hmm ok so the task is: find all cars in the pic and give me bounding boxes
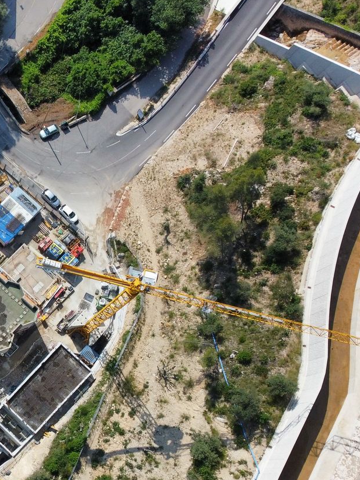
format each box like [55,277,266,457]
[38,185,62,209]
[37,123,61,140]
[56,202,81,227]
